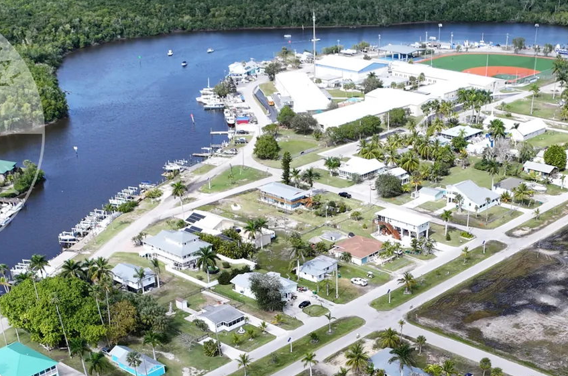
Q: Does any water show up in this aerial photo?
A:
Yes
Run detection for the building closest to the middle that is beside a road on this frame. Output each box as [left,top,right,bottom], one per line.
[259,183,313,215]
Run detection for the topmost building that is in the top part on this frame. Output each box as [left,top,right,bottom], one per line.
[378,46,424,65]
